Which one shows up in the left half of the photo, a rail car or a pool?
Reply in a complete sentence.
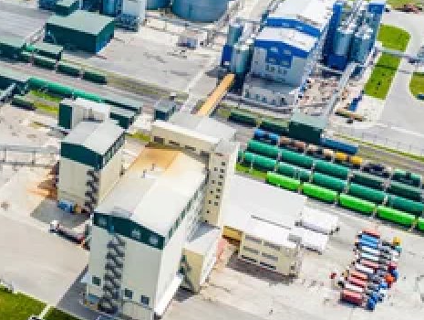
It is a rail car that can be seen in the left half of the photo.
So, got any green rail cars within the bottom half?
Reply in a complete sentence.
Yes, a green rail car shows up within the bottom half.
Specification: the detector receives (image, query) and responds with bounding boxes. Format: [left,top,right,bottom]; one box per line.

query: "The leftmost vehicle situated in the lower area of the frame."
[48,220,84,242]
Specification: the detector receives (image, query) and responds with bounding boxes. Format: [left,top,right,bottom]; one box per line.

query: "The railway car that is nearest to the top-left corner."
[21,52,43,66]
